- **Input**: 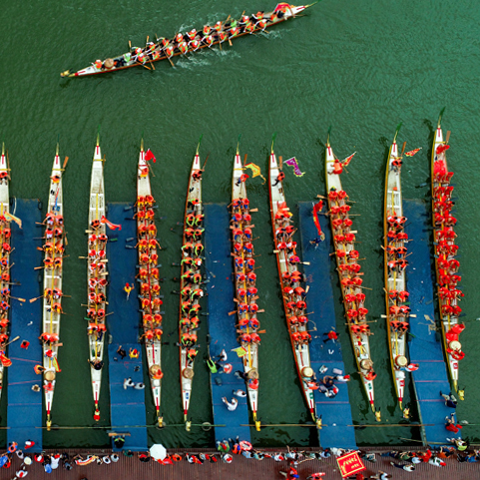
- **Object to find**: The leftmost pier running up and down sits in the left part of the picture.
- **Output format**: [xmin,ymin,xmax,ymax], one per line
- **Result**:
[7,198,42,454]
